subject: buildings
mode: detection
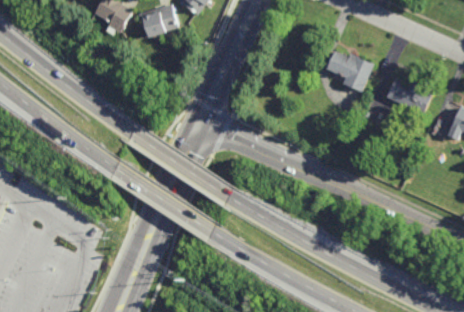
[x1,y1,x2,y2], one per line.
[390,81,434,113]
[444,96,464,142]
[325,51,374,92]
[94,0,140,36]
[143,4,181,38]
[178,0,214,16]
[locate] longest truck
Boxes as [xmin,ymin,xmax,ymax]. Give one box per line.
[34,116,70,145]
